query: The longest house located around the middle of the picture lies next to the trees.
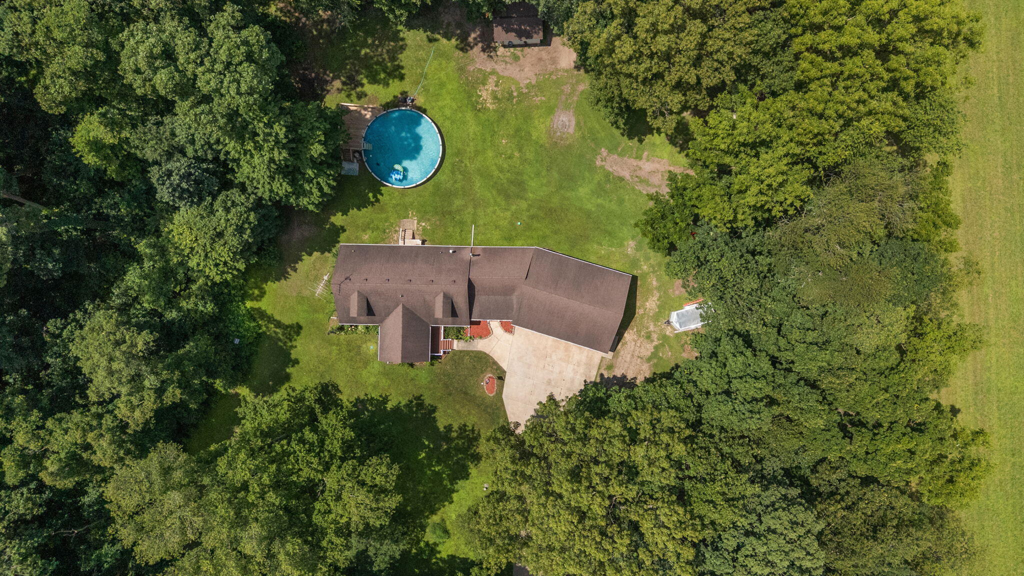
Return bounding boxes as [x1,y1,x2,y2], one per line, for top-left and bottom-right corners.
[331,244,632,364]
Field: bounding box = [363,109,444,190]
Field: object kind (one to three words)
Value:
swimming pool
